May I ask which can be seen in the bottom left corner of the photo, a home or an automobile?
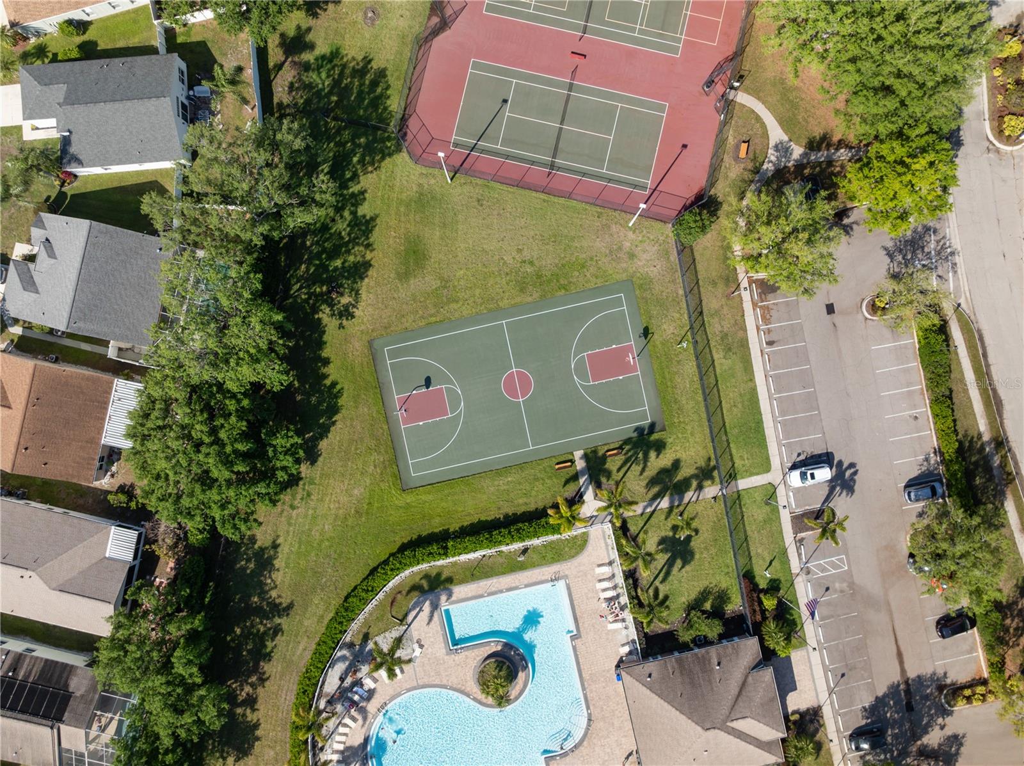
home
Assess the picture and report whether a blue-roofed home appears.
No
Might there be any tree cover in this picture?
Yes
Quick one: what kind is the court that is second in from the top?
tennis court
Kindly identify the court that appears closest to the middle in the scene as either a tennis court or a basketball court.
basketball court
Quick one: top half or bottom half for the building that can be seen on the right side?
bottom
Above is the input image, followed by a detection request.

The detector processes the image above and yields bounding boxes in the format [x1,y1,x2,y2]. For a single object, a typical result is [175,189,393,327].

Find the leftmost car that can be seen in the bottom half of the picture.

[785,464,832,488]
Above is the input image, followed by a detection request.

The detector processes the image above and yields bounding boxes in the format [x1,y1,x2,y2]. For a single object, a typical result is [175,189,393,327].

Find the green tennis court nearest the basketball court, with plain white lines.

[451,60,668,192]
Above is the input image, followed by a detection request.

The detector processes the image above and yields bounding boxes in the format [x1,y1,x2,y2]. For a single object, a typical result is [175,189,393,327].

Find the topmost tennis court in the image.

[483,0,727,56]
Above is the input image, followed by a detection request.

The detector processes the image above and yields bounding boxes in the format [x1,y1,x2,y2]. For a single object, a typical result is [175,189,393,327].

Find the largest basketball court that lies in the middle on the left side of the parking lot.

[370,280,666,490]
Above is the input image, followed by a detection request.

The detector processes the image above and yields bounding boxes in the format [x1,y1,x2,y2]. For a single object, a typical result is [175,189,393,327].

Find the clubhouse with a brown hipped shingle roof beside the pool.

[620,636,786,766]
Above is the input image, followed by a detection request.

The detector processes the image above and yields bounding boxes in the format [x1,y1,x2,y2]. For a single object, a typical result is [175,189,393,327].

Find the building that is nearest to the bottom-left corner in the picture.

[0,639,129,766]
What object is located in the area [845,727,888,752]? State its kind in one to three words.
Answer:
car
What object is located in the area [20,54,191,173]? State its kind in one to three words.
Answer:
house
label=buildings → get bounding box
[0,639,129,766]
[0,357,142,484]
[3,0,156,36]
[620,636,786,766]
[20,54,191,173]
[0,497,152,636]
[3,213,235,345]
